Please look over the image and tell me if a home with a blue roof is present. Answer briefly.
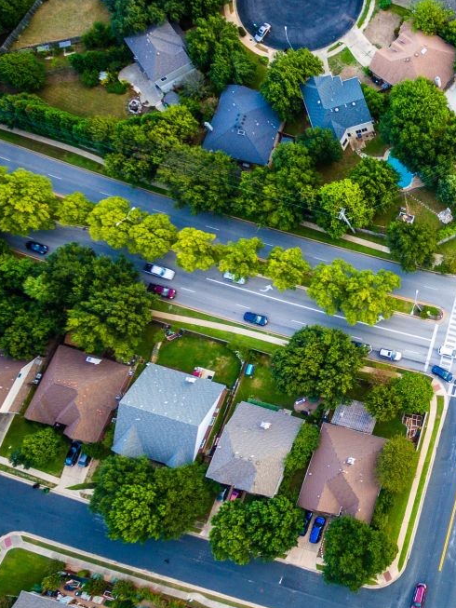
Yes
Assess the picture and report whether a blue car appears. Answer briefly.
Yes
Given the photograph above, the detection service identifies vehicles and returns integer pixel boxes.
[429,363,454,381]
[26,240,50,254]
[76,445,94,471]
[144,261,173,278]
[308,516,326,543]
[377,347,402,361]
[299,509,314,536]
[411,584,426,608]
[63,439,83,466]
[227,486,242,506]
[147,282,176,298]
[254,22,271,42]
[437,346,456,360]
[243,311,269,326]
[214,482,230,507]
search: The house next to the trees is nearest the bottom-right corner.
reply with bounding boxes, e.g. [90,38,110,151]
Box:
[298,423,390,519]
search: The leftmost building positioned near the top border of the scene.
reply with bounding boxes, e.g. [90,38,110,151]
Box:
[124,21,195,91]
